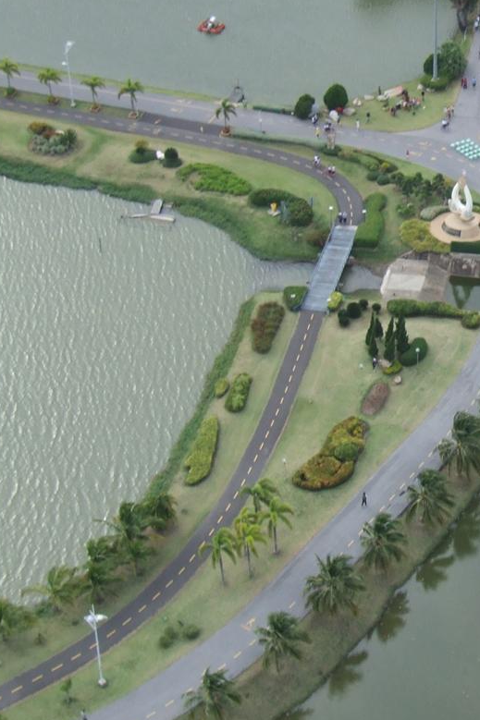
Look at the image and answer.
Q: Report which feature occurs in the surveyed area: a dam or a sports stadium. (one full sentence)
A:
The one in the frame is a dam.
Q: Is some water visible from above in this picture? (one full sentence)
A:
Yes, some water is visible.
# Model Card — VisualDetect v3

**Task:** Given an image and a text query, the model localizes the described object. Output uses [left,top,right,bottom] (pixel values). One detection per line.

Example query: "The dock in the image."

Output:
[119,198,174,217]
